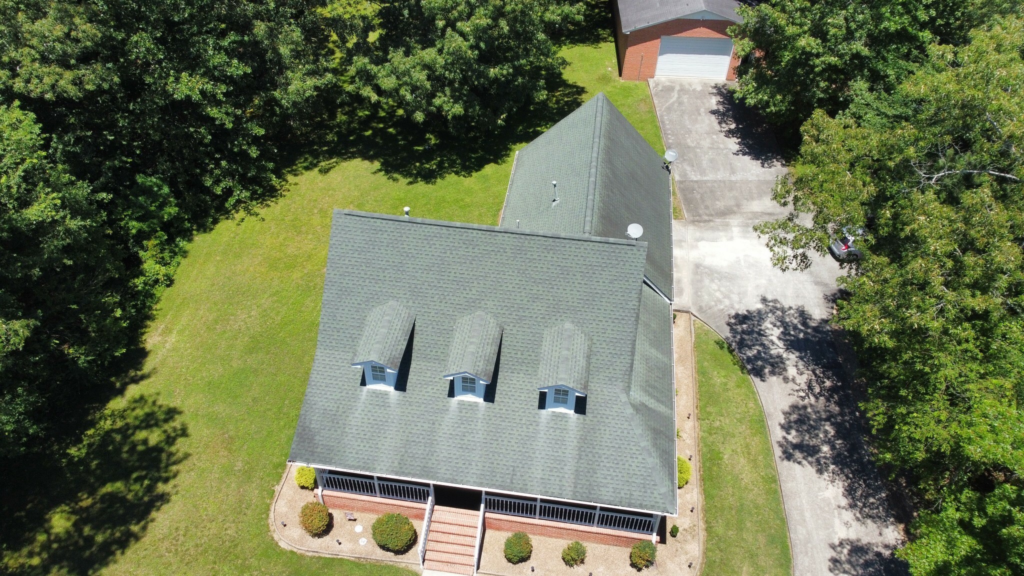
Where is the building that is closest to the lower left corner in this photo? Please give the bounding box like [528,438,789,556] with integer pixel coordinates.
[288,91,676,576]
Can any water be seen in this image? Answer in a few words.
No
